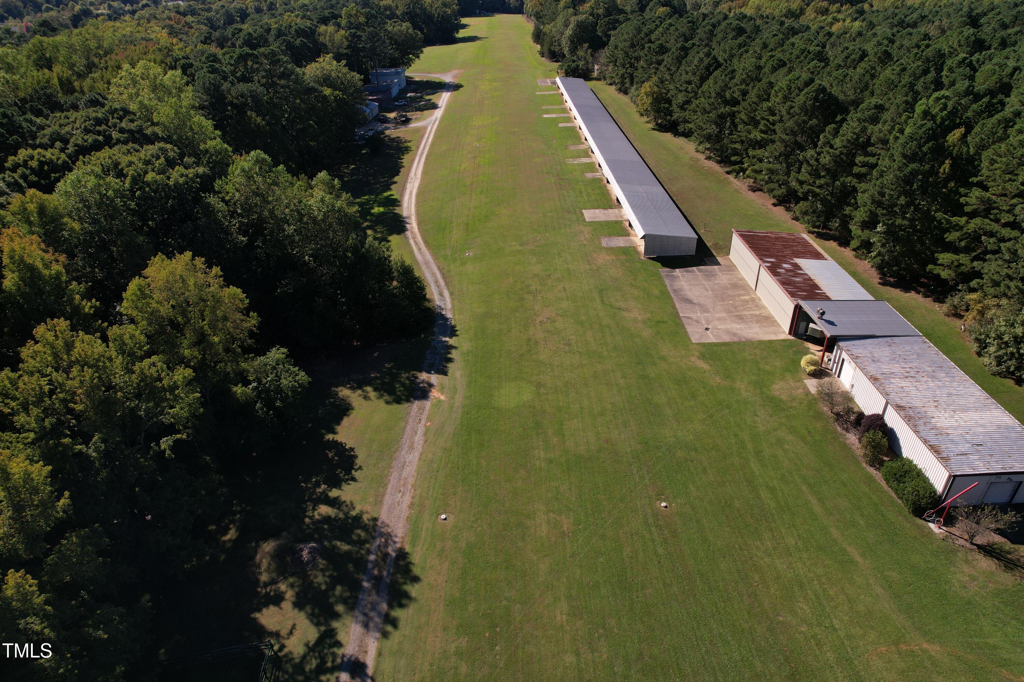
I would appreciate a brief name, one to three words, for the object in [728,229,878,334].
hangar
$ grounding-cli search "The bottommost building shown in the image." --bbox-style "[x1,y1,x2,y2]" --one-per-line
[830,336,1024,505]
